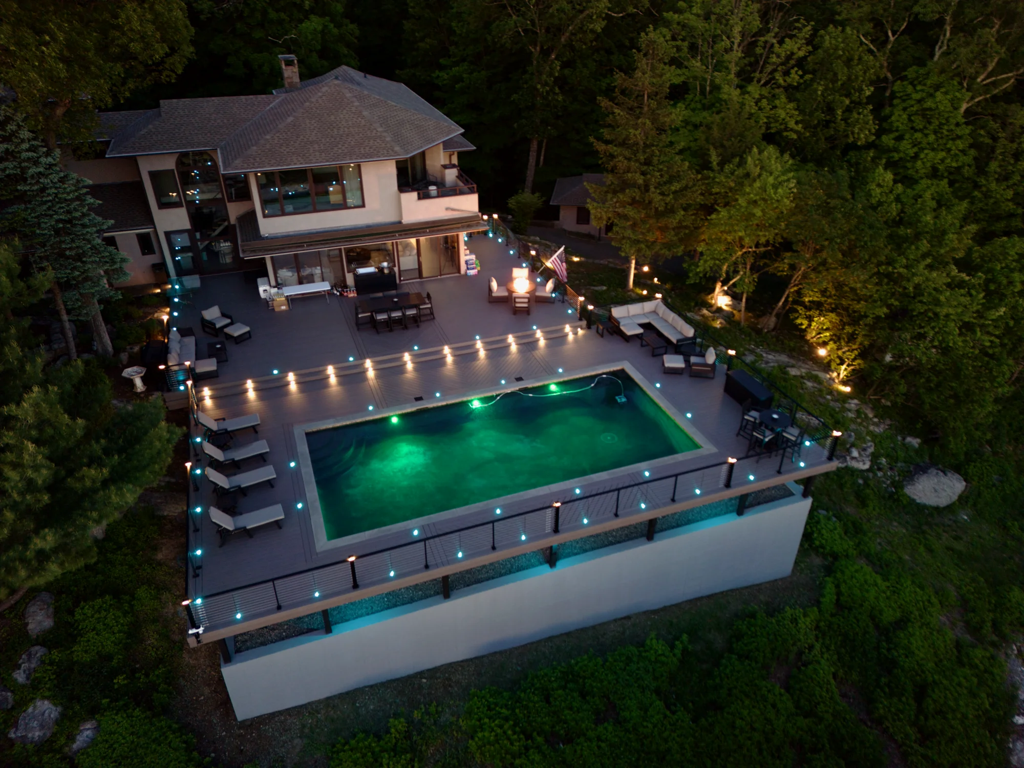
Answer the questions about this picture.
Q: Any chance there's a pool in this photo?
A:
Yes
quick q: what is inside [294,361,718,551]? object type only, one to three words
swimming pool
